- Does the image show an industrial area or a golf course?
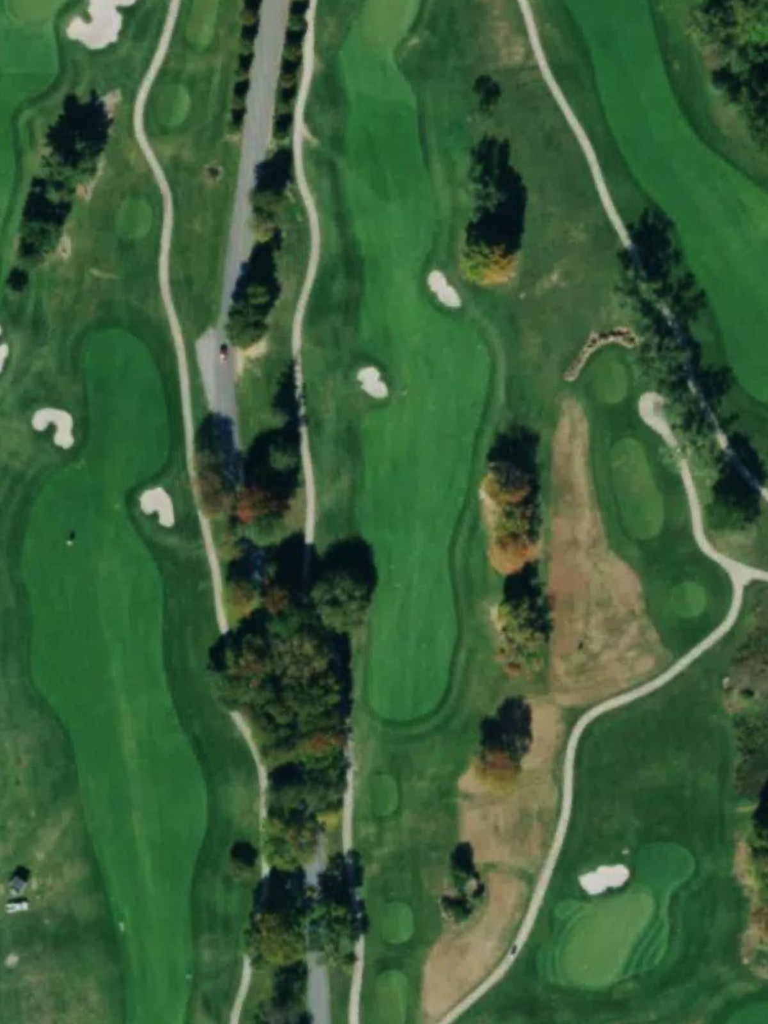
golf course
